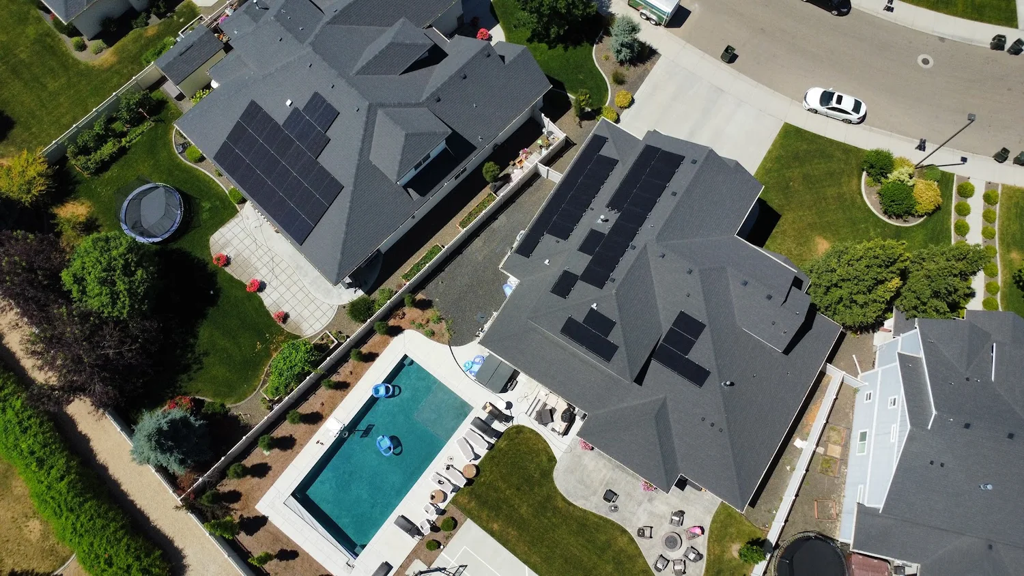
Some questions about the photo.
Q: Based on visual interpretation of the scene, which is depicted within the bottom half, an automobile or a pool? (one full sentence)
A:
What appears within the bottom half is a pool.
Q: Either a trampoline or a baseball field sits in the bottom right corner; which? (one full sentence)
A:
Looking in the bottom right corner, you will find a trampoline.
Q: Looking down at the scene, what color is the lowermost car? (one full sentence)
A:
From above, the lowermost car appears white.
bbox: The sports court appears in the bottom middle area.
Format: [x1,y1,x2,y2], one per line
[426,519,543,576]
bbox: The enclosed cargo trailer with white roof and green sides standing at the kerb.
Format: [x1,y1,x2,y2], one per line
[621,0,678,26]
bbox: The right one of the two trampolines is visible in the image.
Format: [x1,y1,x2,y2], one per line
[764,525,859,576]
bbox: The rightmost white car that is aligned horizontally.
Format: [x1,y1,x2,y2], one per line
[801,86,869,124]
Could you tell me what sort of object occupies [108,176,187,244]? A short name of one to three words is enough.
trampoline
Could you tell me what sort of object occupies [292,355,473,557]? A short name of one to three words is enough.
swimming pool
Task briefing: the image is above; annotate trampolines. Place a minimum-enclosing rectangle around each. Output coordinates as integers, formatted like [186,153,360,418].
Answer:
[764,525,859,576]
[108,176,187,244]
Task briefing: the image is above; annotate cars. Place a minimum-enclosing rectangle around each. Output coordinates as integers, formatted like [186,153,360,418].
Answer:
[798,0,853,16]
[801,86,869,124]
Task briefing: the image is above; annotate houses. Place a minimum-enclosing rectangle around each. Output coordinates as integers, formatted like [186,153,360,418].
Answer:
[46,0,153,41]
[478,117,843,514]
[838,305,1024,576]
[175,0,551,289]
